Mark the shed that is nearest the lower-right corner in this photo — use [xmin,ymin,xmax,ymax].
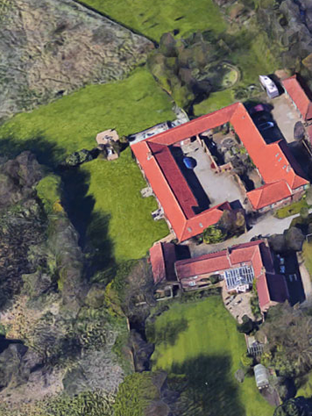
[253,366,267,395]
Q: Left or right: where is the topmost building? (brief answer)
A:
right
